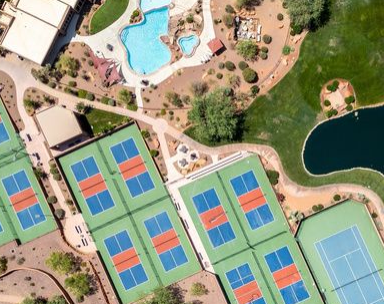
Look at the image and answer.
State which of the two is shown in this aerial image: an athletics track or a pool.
pool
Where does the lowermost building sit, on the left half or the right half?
left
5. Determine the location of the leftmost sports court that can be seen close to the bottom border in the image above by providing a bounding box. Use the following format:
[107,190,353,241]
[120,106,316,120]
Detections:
[104,230,149,290]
